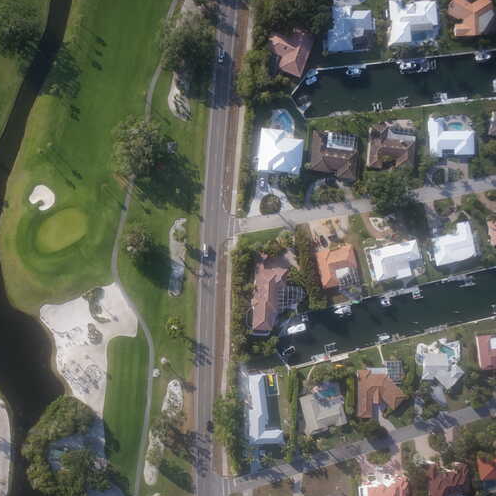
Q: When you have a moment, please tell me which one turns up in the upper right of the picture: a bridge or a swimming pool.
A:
swimming pool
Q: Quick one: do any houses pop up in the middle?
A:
Yes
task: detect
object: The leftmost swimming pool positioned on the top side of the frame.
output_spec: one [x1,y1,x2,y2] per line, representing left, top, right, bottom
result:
[270,108,296,139]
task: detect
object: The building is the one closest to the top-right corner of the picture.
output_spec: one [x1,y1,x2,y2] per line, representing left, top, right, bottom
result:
[447,0,496,36]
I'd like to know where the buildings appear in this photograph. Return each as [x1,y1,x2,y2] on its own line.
[421,352,461,390]
[249,373,285,445]
[368,241,423,281]
[428,461,471,496]
[299,390,351,436]
[310,131,360,179]
[389,1,438,44]
[328,6,371,52]
[356,370,409,417]
[428,117,475,157]
[433,222,478,264]
[269,28,312,78]
[313,242,360,289]
[252,255,292,332]
[368,475,411,496]
[365,128,417,169]
[474,335,496,370]
[475,457,496,482]
[447,0,496,36]
[258,129,302,173]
